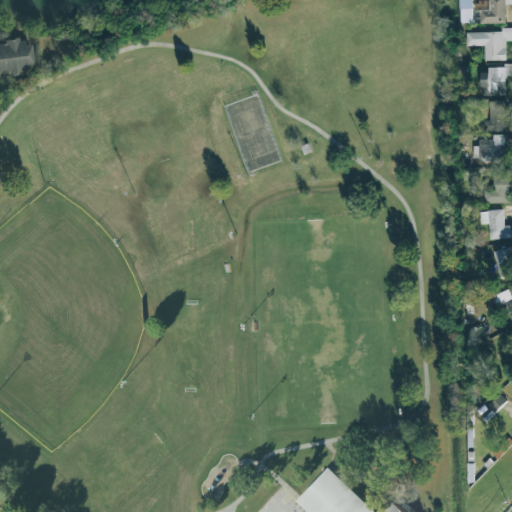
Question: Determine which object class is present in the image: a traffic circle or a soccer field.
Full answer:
This aerial view contains a soccer field.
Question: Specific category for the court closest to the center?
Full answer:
In the photo, the court closest to the center shows up as a tennis court.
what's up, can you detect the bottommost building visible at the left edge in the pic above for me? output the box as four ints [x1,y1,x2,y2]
[0,36,34,75]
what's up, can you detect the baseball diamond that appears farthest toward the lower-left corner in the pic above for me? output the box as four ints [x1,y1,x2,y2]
[0,189,143,450]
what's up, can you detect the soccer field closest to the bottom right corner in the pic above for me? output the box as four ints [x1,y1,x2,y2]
[248,218,394,427]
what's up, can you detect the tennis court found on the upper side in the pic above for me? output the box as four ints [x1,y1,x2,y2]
[226,96,280,171]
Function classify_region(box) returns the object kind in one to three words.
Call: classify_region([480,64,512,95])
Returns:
house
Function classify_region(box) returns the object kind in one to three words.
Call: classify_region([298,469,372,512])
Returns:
building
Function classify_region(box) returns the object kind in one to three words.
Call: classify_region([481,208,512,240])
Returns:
house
